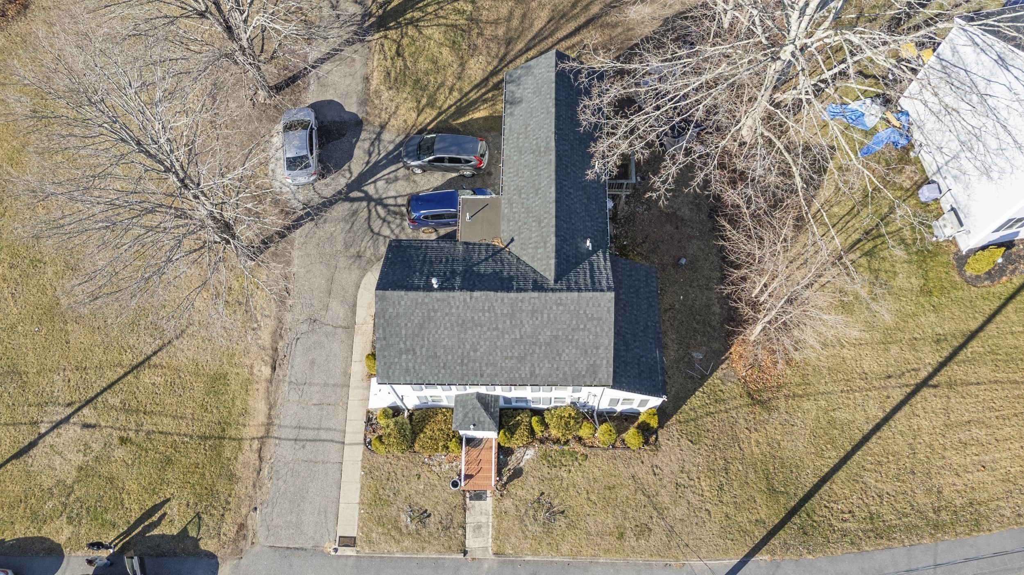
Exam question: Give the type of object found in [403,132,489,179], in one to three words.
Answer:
car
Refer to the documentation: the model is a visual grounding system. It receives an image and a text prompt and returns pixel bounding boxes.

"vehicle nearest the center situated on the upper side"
[405,182,492,232]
